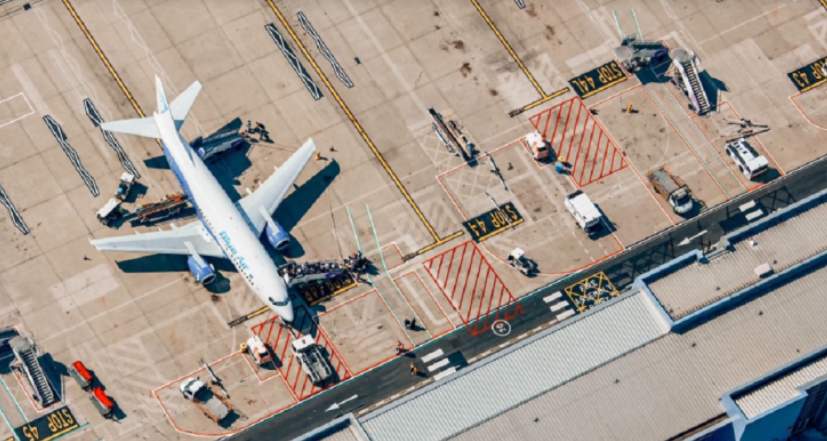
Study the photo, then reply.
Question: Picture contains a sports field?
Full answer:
No, the scene contains no sports field.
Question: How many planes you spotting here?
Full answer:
Just 1 plane appears in this view.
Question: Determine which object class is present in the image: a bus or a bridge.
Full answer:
I can see a bus in this picture.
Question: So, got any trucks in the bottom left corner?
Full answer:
Yes, I can see a truck in the bottom left corner.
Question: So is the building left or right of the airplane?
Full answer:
The building is to the right of the airplane.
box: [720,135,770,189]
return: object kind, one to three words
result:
bus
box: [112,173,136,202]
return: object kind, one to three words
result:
work vehicle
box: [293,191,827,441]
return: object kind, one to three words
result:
building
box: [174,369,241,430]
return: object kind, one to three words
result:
truck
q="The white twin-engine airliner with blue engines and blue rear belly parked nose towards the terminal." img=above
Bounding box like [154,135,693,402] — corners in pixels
[91,77,316,324]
